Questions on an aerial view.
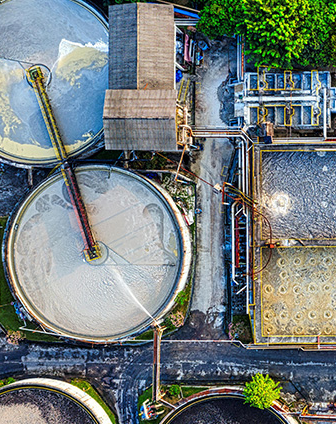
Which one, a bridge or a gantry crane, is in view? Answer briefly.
bridge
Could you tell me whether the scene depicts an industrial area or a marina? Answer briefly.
industrial area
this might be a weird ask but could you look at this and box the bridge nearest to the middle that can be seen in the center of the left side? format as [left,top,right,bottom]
[61,162,97,255]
